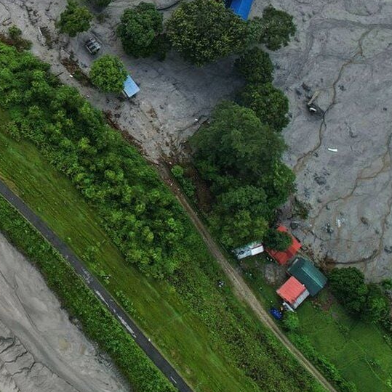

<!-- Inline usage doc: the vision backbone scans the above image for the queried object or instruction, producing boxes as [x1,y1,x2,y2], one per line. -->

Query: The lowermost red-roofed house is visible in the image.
[272,277,309,309]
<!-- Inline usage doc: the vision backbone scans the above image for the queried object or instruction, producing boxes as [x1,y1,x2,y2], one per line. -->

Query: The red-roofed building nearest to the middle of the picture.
[263,224,302,266]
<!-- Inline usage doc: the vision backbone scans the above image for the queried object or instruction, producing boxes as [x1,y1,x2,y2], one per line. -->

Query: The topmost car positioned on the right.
[307,103,323,117]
